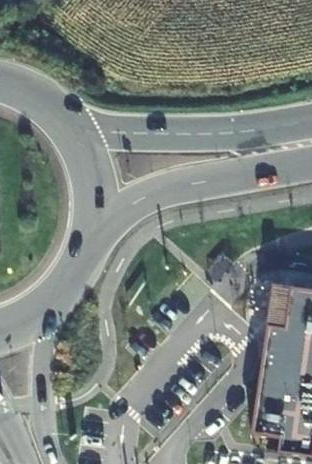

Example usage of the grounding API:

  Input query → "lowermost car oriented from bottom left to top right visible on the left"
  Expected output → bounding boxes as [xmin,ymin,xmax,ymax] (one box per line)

[107,401,128,419]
